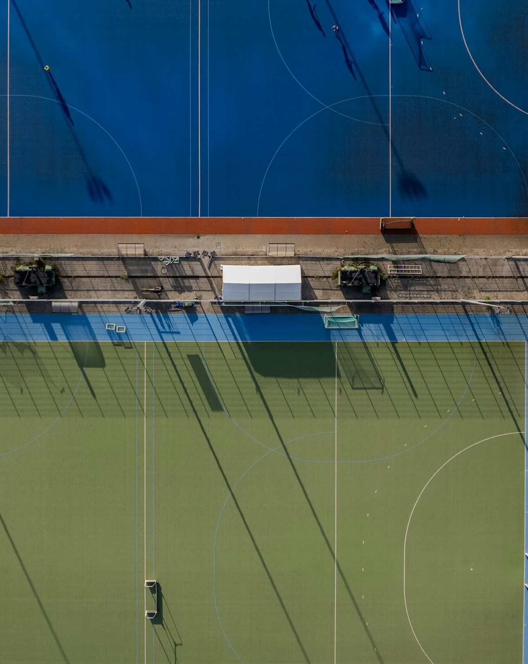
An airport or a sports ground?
sports ground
